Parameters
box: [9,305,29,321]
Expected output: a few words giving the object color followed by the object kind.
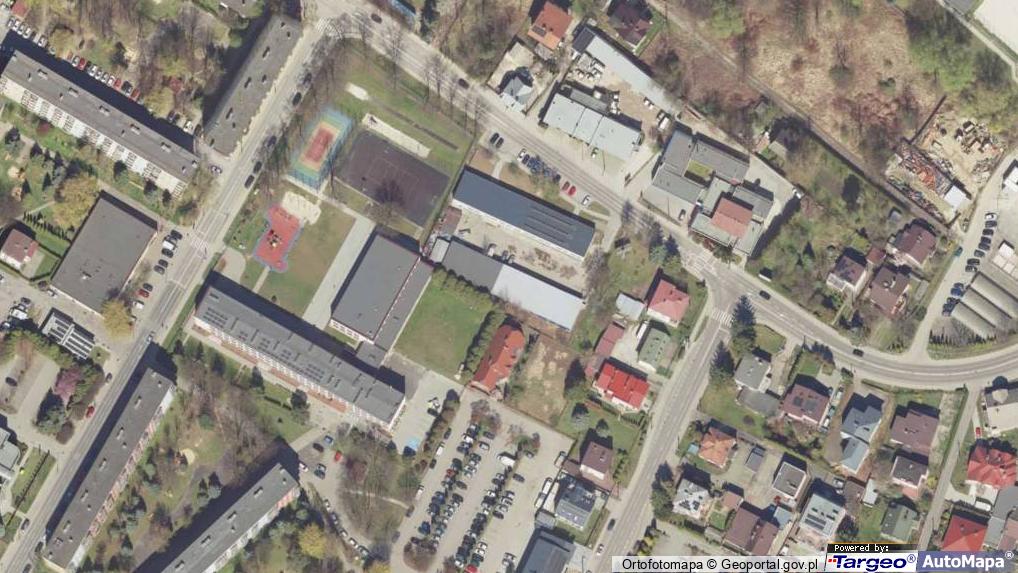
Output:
white vehicle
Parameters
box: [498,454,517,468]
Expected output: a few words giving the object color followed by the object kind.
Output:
white vehicle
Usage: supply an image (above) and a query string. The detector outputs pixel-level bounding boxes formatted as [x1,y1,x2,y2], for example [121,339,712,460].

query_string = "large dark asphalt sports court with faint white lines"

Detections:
[336,120,452,227]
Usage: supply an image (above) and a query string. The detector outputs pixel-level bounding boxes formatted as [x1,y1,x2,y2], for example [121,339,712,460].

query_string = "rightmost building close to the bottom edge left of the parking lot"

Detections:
[165,464,300,573]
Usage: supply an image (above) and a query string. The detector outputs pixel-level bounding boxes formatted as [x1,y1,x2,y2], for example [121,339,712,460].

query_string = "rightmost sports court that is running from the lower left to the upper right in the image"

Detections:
[286,103,354,191]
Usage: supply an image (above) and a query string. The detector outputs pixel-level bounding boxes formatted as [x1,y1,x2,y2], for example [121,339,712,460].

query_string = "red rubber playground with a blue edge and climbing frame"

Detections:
[254,205,303,272]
